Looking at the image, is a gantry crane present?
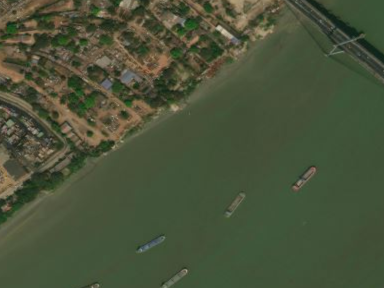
No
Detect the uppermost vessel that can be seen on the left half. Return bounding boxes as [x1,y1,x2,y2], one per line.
[137,236,165,253]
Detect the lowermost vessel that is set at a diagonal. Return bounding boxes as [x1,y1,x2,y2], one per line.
[160,268,187,288]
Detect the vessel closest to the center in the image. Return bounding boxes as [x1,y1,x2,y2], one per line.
[224,193,244,218]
